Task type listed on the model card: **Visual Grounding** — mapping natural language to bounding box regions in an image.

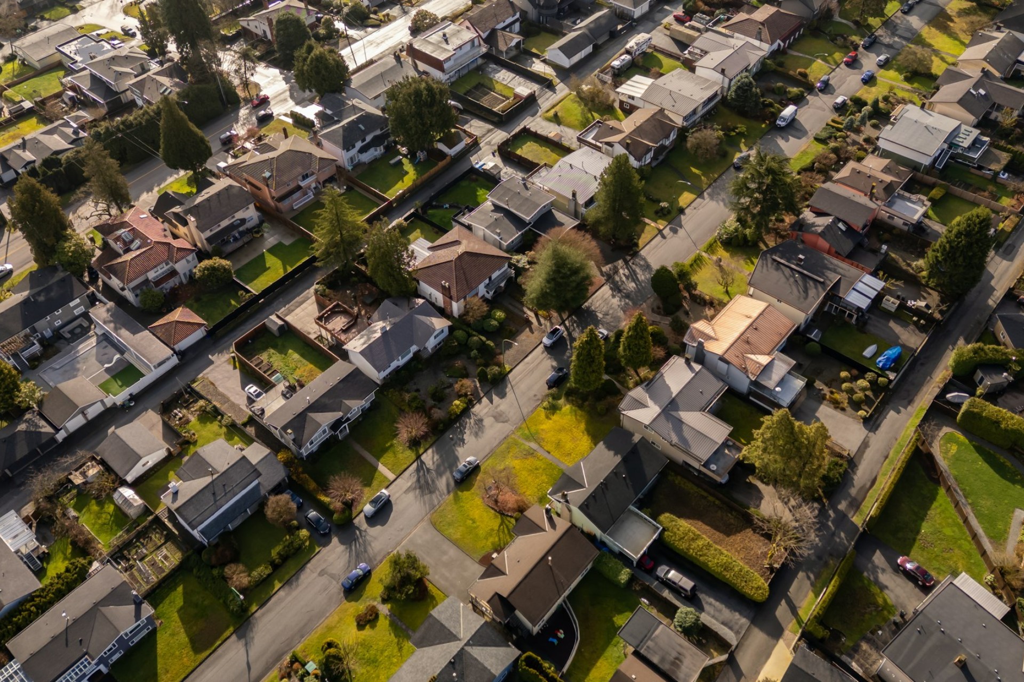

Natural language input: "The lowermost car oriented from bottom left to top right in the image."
[340,564,372,593]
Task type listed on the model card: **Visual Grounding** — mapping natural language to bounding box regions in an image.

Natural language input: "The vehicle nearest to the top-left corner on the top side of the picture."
[118,22,139,37]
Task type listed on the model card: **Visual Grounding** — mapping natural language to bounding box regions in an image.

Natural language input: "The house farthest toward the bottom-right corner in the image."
[872,571,1024,682]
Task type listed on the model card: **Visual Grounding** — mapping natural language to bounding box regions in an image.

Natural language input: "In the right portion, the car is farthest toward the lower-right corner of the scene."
[897,559,934,586]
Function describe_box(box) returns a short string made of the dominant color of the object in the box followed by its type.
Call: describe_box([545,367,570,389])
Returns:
black car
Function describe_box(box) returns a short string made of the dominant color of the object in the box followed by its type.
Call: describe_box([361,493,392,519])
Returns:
gray car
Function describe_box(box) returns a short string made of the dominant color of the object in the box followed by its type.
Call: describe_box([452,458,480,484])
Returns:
gray car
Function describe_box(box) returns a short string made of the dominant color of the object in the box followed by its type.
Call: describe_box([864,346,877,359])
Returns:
gray boat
